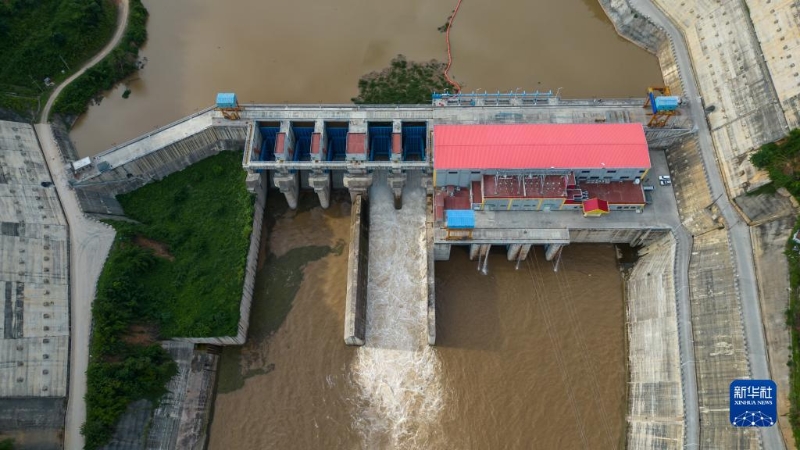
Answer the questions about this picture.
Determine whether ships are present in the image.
No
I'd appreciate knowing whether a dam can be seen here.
Yes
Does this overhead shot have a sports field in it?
No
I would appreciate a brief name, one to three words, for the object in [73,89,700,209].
dam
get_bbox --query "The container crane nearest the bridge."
[216,94,244,120]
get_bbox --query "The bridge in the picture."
[244,104,435,122]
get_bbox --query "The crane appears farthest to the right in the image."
[636,86,682,125]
